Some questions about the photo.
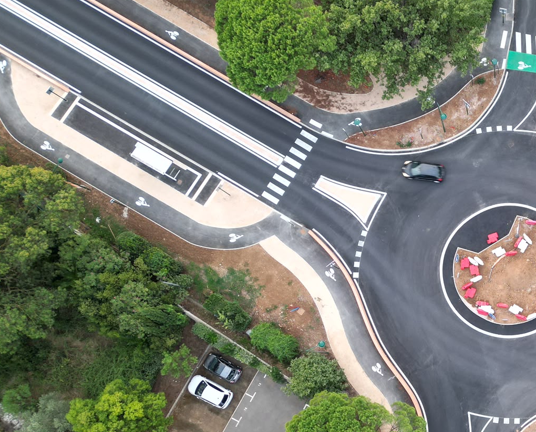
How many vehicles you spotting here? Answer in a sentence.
The photo contains 3 vehicles.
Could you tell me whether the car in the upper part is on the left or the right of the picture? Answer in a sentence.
The car in the upper part is on the right side of the image.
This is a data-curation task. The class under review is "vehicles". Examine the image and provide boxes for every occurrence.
[203,353,243,383]
[401,159,446,184]
[188,376,233,408]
